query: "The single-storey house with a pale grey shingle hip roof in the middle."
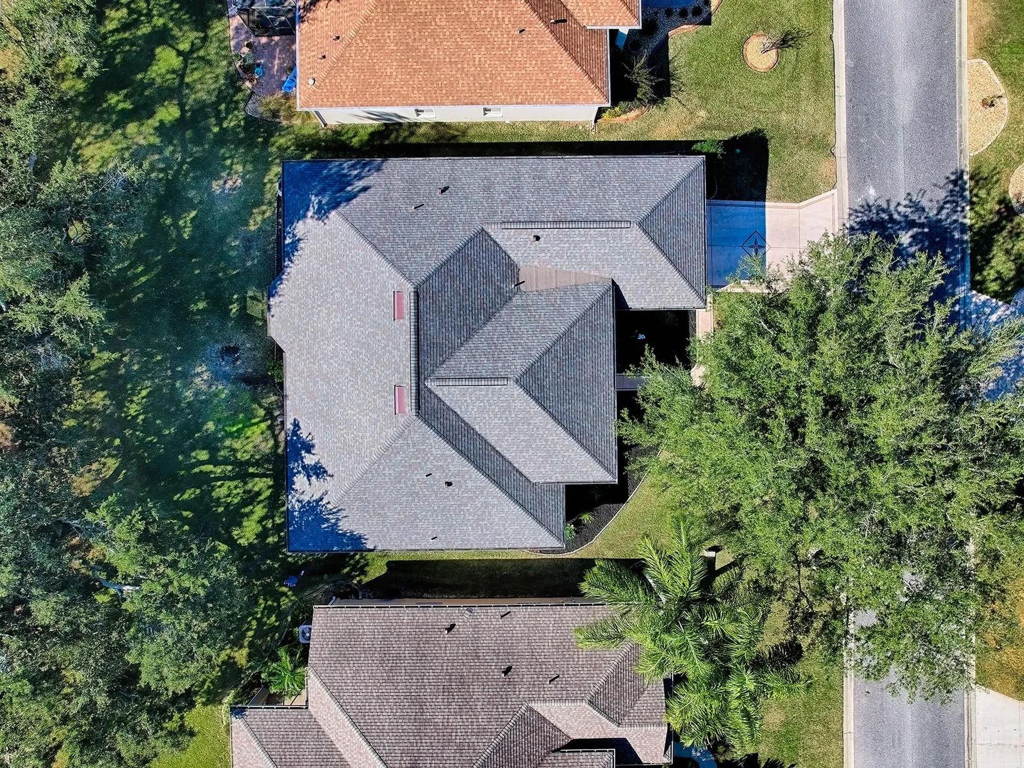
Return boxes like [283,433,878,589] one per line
[265,153,708,552]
